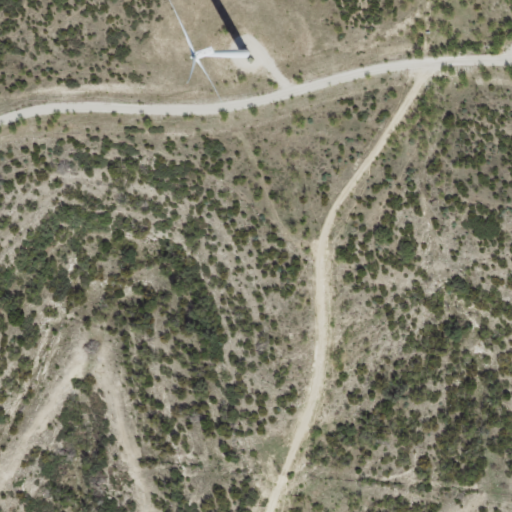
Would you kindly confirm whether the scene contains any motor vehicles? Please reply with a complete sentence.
No, no motor vehicle can be seen from above.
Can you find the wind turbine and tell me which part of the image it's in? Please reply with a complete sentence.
The wind turbine is located in the top region of the scene.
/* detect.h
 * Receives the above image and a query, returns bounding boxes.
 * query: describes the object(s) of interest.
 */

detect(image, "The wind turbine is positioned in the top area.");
[170,0,252,98]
